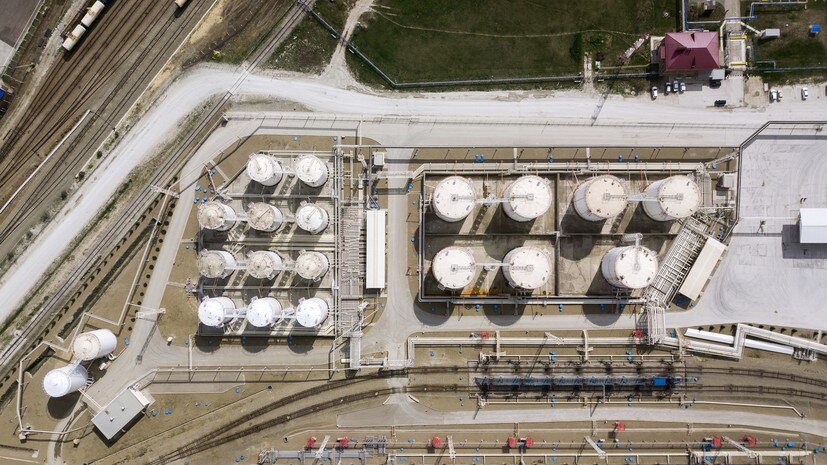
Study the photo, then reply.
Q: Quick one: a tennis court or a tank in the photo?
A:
tank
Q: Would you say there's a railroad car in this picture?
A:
Yes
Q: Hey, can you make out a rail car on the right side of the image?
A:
No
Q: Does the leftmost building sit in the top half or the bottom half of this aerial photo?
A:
bottom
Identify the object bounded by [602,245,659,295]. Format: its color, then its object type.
white storage tank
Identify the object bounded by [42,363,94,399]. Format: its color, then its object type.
white storage tank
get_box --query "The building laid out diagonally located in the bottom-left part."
[90,384,153,439]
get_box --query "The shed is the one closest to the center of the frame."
[367,211,385,288]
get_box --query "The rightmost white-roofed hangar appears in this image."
[791,208,827,243]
